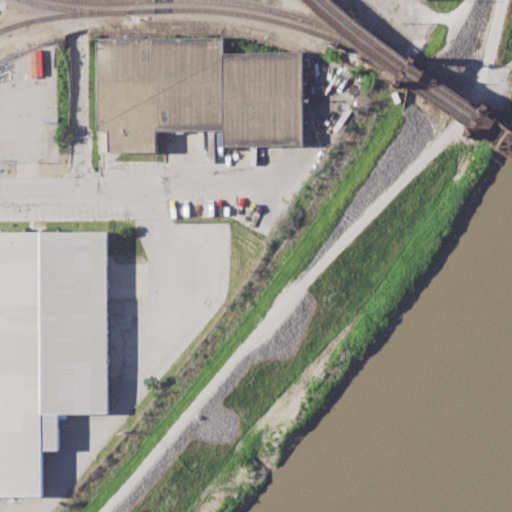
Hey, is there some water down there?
Yes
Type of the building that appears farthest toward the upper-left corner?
warehouse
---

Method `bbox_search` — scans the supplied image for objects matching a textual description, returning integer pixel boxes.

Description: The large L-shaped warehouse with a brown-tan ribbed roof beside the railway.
[96,36,304,154]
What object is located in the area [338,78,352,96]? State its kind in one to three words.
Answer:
vehicle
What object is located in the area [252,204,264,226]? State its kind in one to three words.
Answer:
vehicle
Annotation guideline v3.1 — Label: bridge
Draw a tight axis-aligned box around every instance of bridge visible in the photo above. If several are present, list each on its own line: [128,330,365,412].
[300,0,512,162]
